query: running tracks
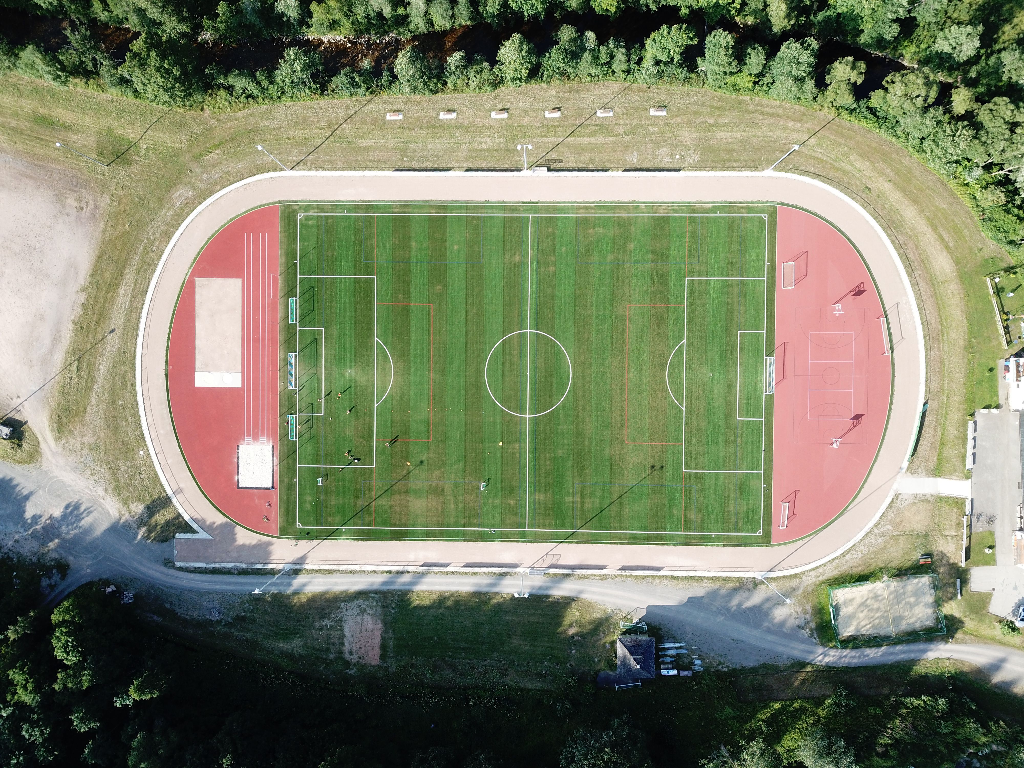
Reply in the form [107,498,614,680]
[142,176,919,570]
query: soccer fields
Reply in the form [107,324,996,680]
[165,200,895,547]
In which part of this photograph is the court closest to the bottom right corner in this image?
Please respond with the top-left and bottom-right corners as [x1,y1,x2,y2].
[832,576,936,639]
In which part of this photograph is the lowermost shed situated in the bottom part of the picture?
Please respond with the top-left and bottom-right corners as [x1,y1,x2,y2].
[617,631,655,679]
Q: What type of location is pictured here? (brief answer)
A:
sports ground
